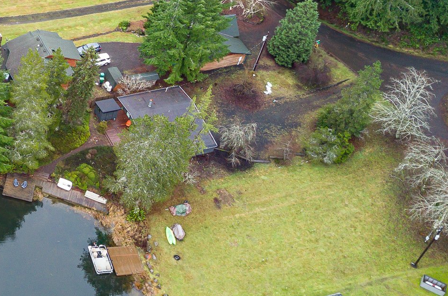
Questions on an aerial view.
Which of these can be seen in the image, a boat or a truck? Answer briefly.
boat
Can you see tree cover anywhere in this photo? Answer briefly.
Yes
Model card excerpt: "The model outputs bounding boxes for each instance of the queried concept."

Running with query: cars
[78,41,103,56]
[93,51,115,66]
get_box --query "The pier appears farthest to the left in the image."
[2,173,36,205]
